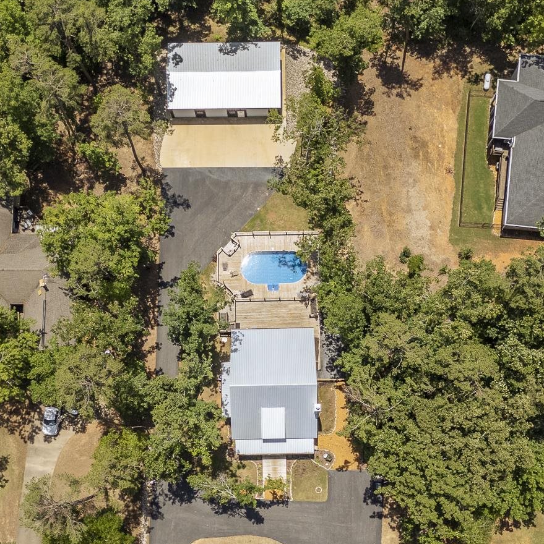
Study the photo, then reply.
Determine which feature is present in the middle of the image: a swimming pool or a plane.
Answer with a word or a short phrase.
swimming pool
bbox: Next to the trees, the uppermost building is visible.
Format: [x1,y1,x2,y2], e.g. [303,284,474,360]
[168,42,282,117]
